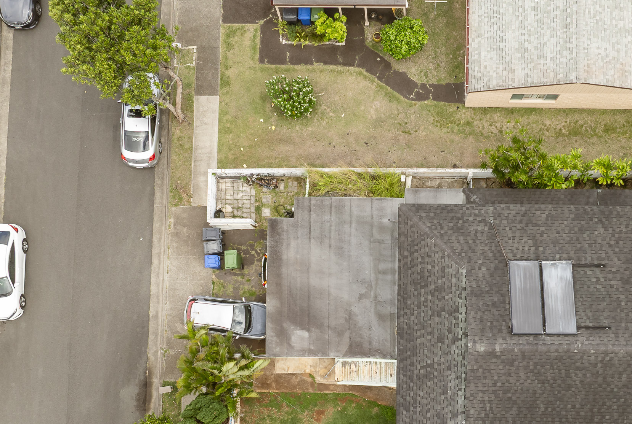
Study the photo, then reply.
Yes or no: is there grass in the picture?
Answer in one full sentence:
Yes, the picture does contain grass.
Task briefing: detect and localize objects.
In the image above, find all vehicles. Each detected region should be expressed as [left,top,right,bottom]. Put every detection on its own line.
[114,73,164,170]
[0,224,25,320]
[182,298,266,345]
[243,174,283,189]
[0,0,41,31]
